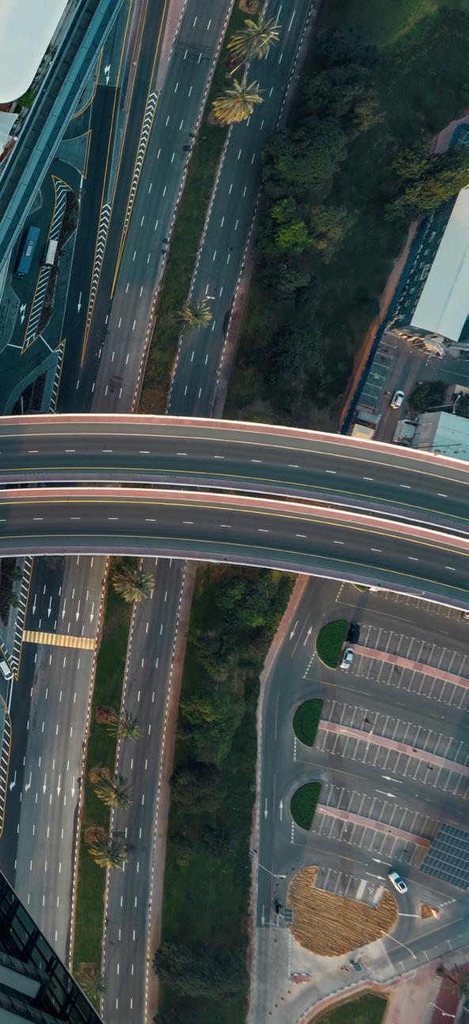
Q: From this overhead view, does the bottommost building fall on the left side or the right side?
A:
left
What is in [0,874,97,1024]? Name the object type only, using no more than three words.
building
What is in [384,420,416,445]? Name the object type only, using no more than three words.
shed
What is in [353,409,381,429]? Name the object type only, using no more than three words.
shed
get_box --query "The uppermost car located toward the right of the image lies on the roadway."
[392,389,404,408]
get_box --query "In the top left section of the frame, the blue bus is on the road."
[15,225,42,276]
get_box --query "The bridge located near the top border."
[0,0,119,273]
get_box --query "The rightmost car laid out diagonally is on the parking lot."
[390,872,408,893]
